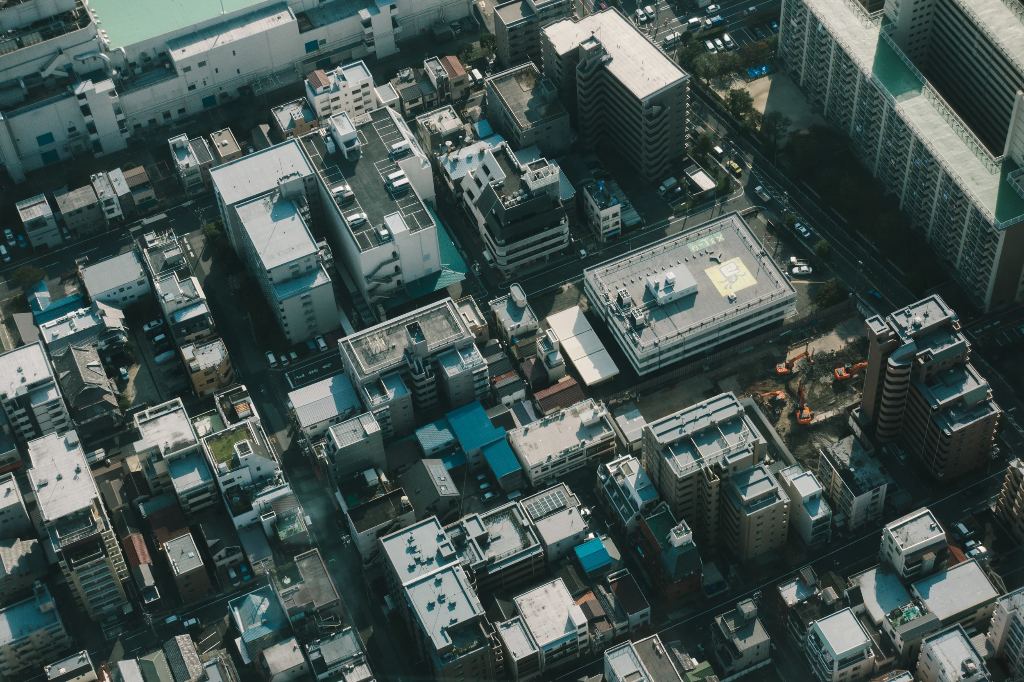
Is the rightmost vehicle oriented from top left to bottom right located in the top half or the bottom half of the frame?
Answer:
bottom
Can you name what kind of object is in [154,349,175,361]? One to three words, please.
vehicle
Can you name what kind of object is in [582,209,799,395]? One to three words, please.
building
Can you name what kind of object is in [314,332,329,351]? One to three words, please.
vehicle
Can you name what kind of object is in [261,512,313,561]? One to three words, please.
house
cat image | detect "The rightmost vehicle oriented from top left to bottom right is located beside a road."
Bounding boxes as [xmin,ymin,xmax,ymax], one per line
[950,517,973,539]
